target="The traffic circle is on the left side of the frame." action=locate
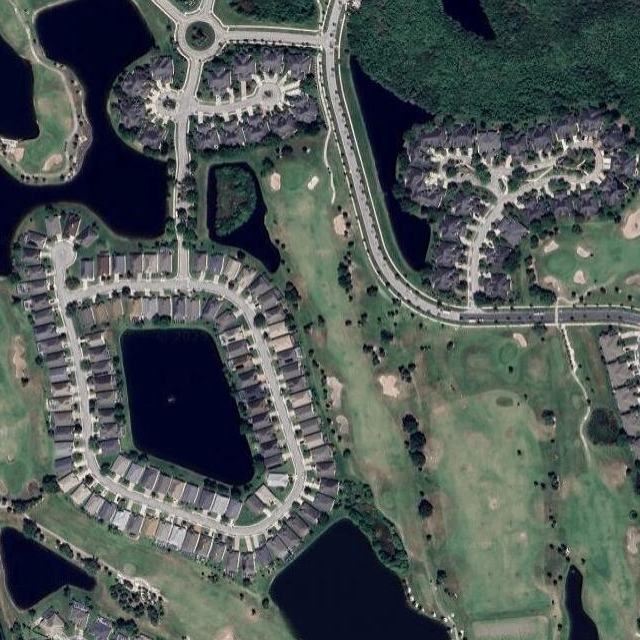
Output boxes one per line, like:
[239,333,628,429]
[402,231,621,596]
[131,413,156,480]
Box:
[175,11,225,61]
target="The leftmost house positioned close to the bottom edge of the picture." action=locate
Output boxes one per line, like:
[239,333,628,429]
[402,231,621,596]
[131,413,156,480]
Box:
[39,611,65,638]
